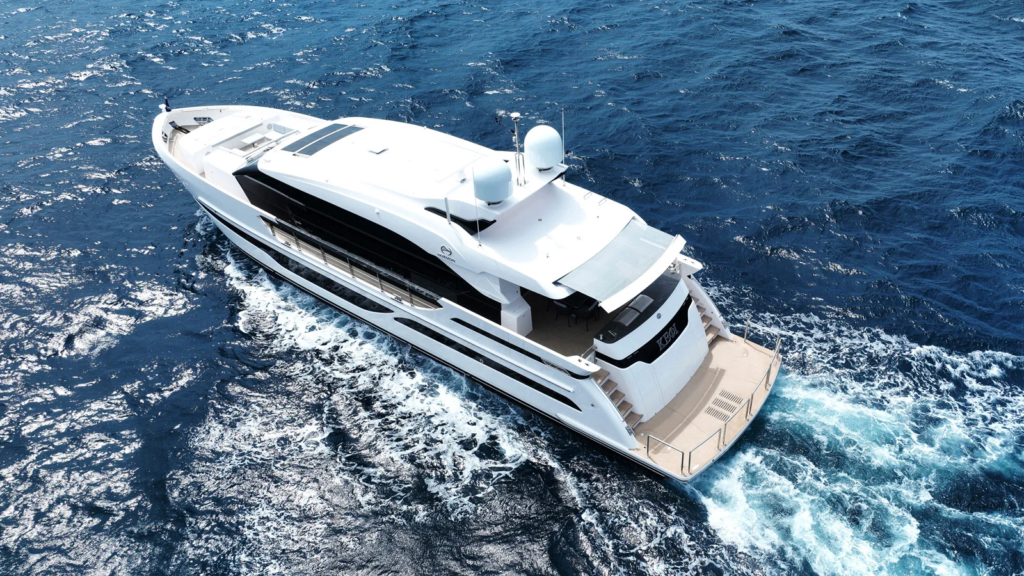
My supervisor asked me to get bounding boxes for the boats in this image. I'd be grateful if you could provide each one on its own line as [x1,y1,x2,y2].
[152,93,781,486]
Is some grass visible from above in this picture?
No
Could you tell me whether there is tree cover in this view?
No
